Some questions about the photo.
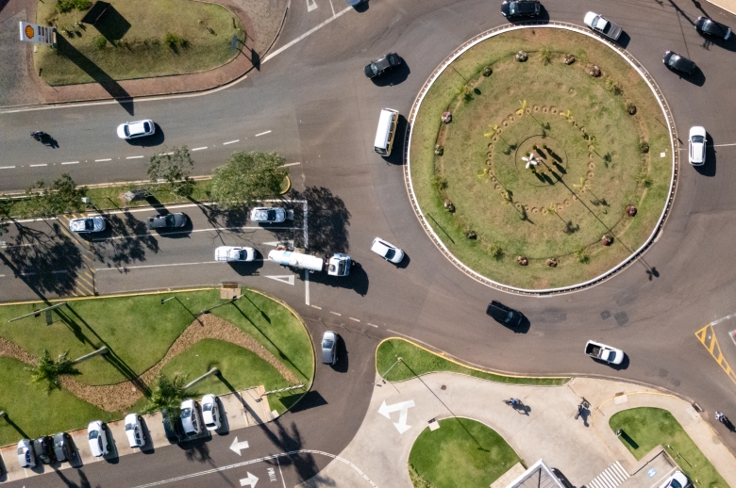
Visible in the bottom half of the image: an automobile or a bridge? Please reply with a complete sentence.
Visible in the bottom half of the image is an automobile.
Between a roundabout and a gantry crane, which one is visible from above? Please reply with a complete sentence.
The image shows a roundabout.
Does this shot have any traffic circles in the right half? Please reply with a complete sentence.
Yes, I can see a traffic circle in the right half.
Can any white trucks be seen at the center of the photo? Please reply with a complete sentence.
Yes, you'll find a white truck at the center of the photo.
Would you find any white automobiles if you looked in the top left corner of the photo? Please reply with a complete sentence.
Yes, a white automobile can be seen in the top left corner of the photo.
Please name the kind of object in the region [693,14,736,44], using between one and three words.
car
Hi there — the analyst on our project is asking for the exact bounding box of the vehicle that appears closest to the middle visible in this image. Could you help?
[368,236,406,265]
